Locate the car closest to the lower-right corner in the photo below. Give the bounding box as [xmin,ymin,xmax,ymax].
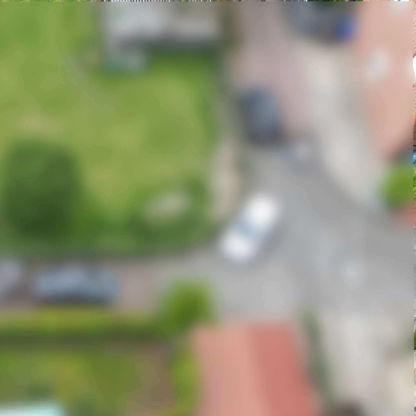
[215,196,274,267]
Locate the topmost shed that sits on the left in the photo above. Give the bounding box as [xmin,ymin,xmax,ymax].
[96,3,222,64]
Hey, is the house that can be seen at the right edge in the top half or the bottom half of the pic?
top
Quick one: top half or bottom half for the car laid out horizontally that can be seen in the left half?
bottom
